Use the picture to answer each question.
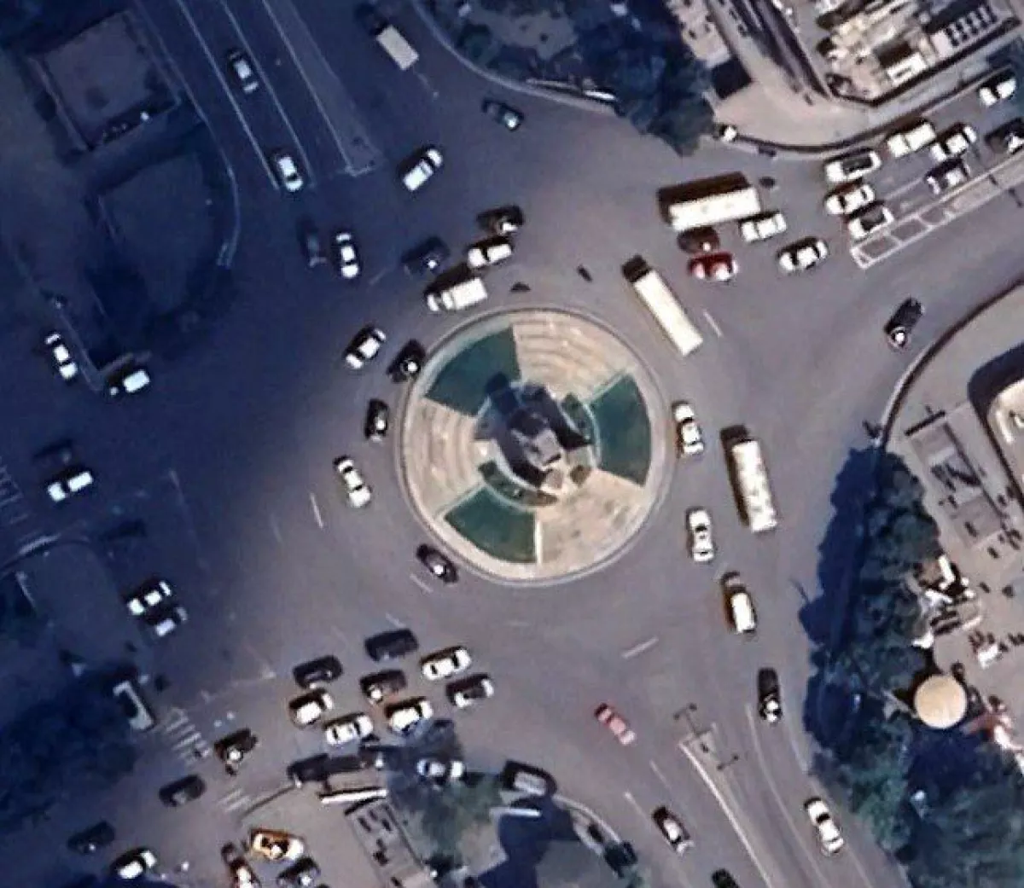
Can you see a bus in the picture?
Yes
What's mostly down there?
paved ground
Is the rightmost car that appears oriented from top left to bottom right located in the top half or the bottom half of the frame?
bottom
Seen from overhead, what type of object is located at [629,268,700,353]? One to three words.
bus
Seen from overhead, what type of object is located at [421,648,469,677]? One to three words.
car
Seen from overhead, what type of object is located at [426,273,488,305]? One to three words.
truck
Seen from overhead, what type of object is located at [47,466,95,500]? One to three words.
van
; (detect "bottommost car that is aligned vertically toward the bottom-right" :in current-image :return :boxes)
[756,669,783,721]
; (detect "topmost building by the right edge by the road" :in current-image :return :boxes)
[769,0,1024,110]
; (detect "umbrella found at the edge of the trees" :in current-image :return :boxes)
[914,674,965,726]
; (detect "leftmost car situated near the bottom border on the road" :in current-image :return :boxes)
[67,821,116,854]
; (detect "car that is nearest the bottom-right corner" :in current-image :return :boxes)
[803,800,844,851]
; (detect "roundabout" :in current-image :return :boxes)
[399,305,670,587]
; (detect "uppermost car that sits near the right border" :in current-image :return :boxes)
[977,71,1020,102]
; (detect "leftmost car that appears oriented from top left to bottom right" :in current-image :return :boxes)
[43,333,78,379]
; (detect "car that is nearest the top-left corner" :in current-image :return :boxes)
[227,50,258,91]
